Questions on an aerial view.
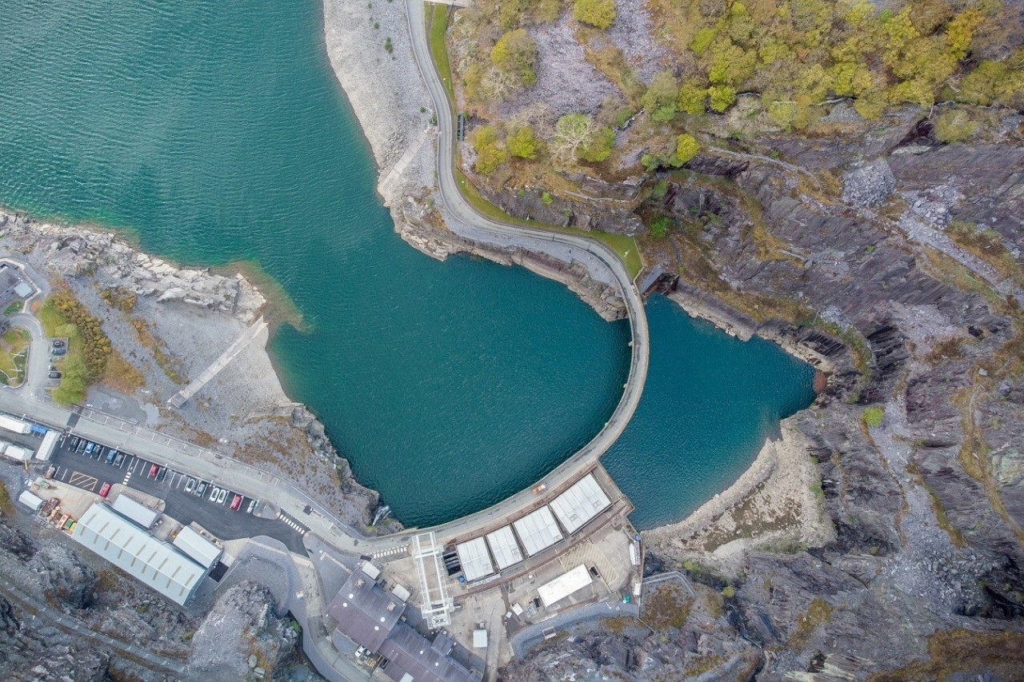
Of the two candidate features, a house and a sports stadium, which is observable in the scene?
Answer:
house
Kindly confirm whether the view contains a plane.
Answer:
No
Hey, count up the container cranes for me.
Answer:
1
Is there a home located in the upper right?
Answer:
No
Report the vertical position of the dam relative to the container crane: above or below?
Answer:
above it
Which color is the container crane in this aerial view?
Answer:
white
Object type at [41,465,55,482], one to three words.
vehicle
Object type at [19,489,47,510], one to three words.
shed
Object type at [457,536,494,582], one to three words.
house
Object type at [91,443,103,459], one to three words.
vehicle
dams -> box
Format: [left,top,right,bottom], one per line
[417,289,650,545]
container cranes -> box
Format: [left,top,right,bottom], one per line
[412,531,462,629]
